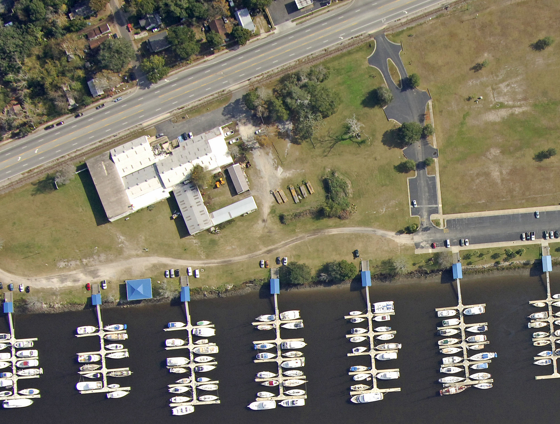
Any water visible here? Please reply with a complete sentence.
Yes, water shows up in the scene.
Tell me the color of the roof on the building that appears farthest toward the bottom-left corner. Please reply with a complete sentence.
The roof over the building that appears farthest toward the bottom-left corner appears blue.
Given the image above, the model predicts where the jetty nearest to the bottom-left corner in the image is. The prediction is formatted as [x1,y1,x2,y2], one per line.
[0,312,41,400]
